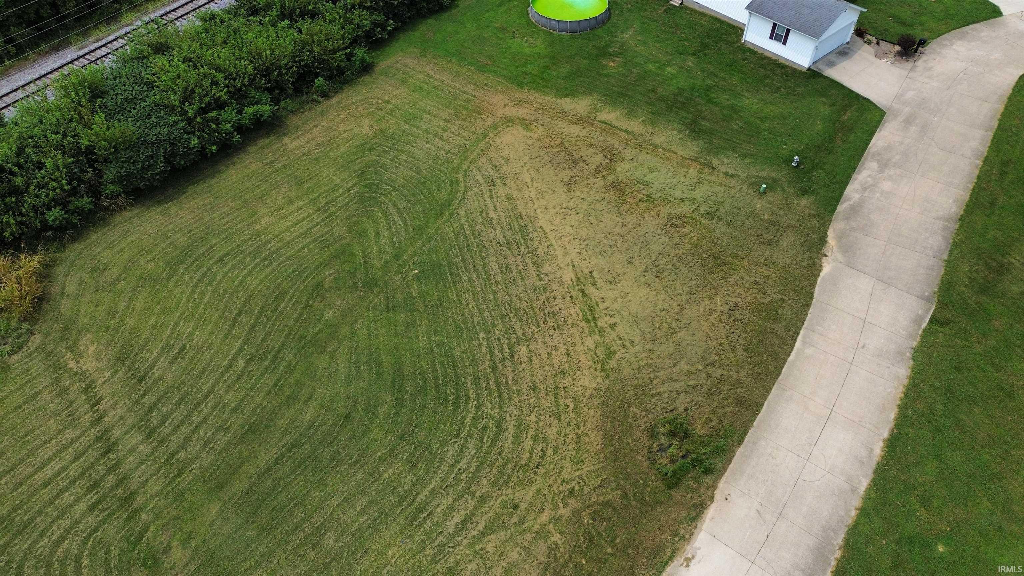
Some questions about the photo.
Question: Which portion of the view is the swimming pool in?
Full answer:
Look in the top portion of the view to spot the swimming pool.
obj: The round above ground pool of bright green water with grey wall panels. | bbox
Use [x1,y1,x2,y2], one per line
[528,0,609,35]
